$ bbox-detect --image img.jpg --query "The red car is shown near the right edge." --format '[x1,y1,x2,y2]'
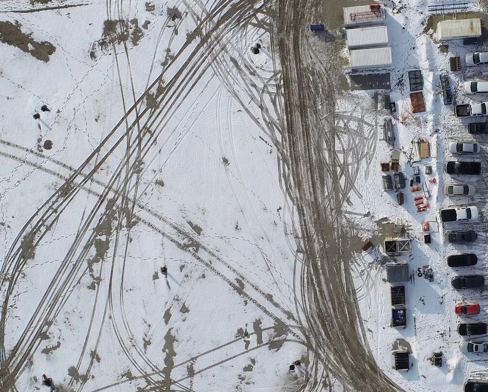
[455,301,480,317]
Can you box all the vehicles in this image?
[444,160,481,176]
[464,50,488,67]
[448,229,477,244]
[458,340,488,354]
[455,301,480,317]
[451,274,484,290]
[439,205,478,222]
[443,182,476,198]
[467,123,488,133]
[463,380,488,392]
[446,253,477,268]
[449,141,480,155]
[453,100,488,117]
[463,80,488,95]
[457,322,487,337]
